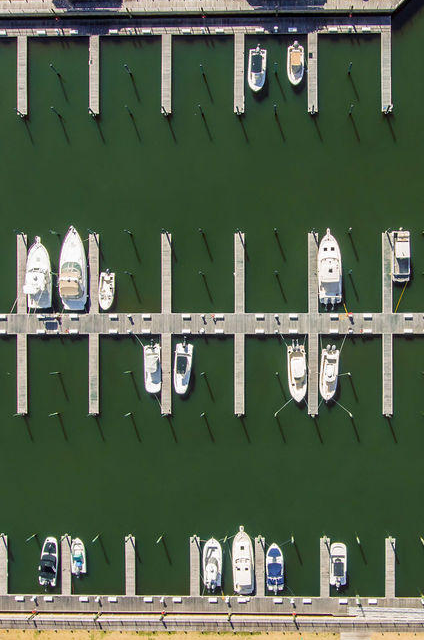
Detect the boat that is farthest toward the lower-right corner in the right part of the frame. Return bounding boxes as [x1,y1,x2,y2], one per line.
[330,543,347,589]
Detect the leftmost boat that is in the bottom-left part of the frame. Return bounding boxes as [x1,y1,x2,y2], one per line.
[39,537,59,595]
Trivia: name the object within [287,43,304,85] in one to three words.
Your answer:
boat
